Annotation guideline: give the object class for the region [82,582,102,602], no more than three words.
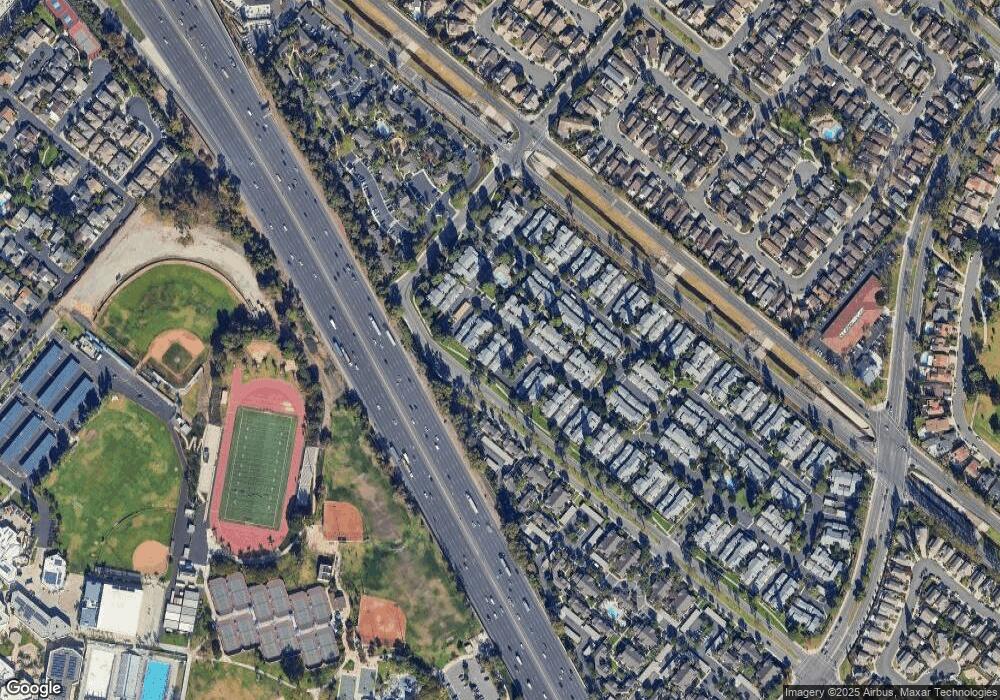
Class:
building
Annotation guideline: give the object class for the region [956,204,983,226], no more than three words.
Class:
house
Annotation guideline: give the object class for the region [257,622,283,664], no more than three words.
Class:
tennis court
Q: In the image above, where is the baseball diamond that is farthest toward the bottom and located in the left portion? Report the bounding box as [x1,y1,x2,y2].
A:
[358,596,405,644]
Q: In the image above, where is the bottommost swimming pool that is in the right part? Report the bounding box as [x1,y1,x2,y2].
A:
[604,599,622,620]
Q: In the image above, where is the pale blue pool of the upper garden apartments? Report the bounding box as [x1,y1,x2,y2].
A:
[374,118,396,138]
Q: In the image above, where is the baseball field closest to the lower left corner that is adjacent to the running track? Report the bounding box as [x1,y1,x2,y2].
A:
[46,397,180,575]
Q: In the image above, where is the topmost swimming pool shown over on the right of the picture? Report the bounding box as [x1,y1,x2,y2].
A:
[812,122,842,142]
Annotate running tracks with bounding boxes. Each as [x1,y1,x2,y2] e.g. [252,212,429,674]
[209,368,306,555]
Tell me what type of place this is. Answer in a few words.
residential area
